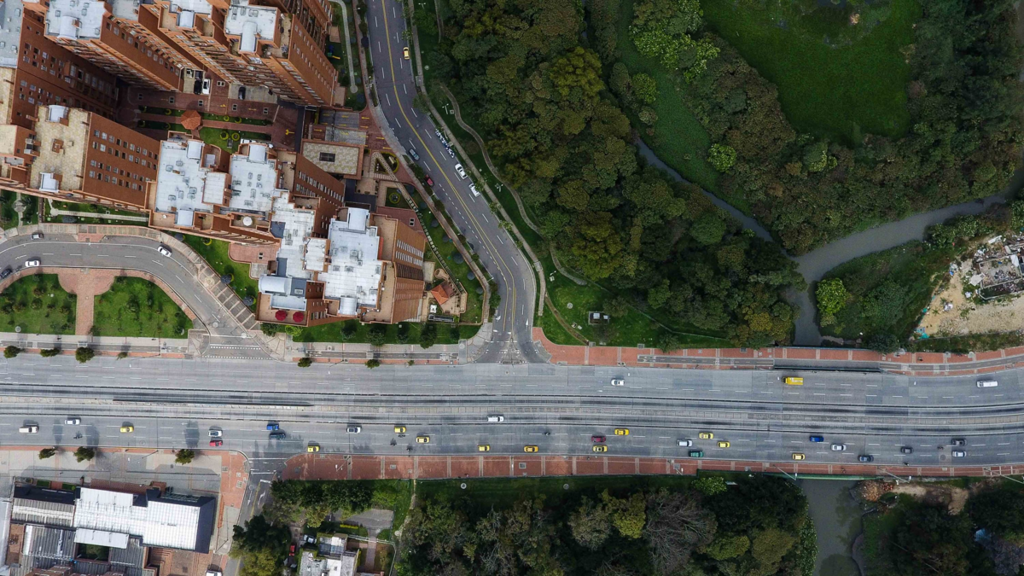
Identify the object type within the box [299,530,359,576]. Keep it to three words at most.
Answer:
house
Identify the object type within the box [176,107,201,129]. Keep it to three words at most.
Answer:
gazebo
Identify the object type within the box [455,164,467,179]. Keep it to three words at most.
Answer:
vehicle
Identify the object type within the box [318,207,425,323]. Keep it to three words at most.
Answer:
building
